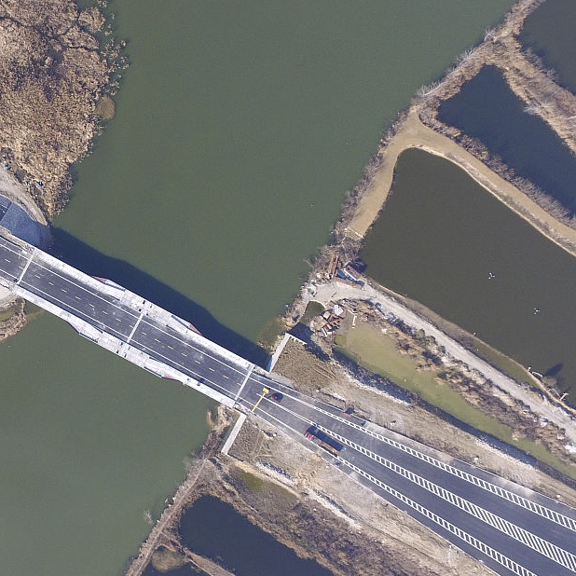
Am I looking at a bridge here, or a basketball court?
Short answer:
bridge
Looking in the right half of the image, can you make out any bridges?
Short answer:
No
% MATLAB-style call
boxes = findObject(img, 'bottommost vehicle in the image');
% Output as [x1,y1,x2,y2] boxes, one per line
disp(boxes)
[306,431,344,455]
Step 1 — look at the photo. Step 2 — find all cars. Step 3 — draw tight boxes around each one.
[269,391,282,401]
[342,411,353,419]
